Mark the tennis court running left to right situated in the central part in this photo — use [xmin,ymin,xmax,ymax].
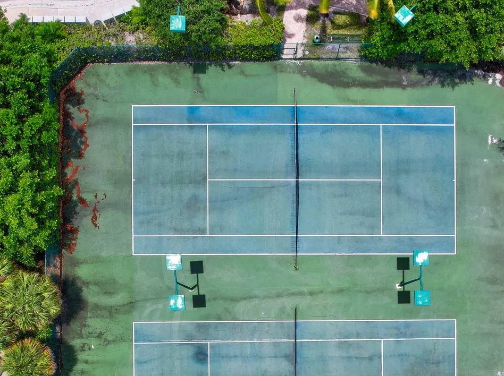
[132,105,456,255]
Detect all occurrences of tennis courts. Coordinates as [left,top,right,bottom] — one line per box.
[133,319,457,376]
[132,105,456,255]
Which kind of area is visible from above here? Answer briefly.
sports ground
